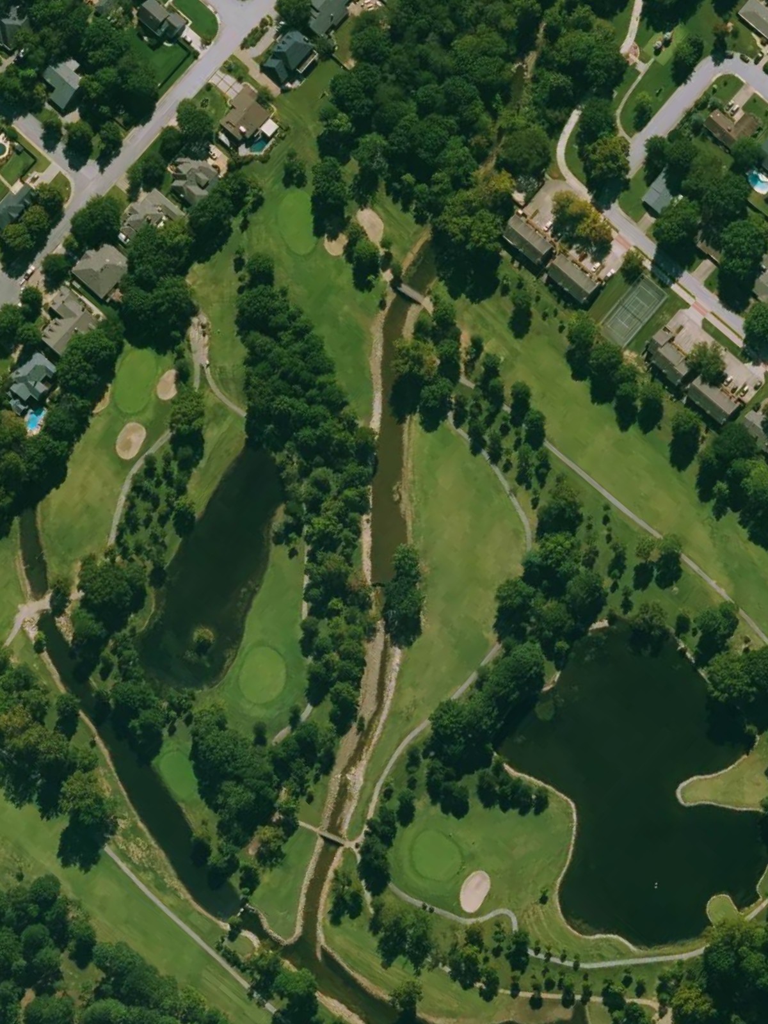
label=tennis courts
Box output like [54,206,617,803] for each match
[598,273,670,348]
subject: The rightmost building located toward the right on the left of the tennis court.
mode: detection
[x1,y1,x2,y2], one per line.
[546,254,601,304]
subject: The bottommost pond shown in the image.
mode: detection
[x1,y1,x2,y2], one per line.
[136,440,283,693]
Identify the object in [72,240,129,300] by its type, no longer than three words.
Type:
house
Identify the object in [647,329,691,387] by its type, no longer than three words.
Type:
house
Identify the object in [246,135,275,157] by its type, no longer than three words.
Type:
swimming pool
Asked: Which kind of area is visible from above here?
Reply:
golf course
